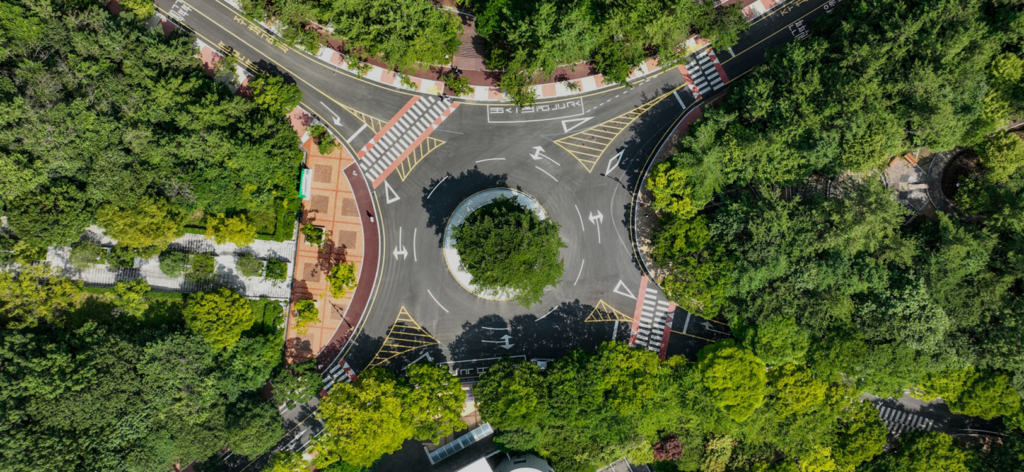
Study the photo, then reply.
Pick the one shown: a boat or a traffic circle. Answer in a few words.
traffic circle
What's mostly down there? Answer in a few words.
trees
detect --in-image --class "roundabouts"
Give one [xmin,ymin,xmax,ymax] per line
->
[383,126,619,362]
